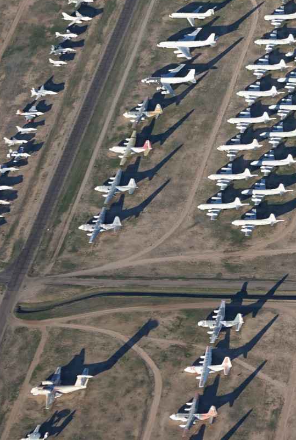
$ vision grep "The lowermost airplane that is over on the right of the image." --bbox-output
[169,392,219,435]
